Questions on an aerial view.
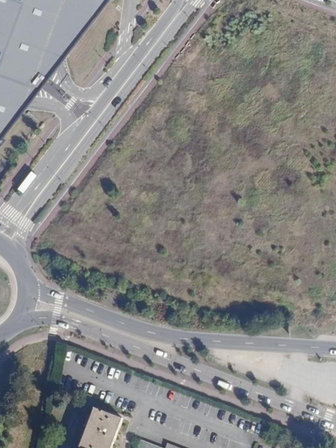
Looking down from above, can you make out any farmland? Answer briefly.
No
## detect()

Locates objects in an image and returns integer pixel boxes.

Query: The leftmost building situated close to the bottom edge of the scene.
[76,407,124,448]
